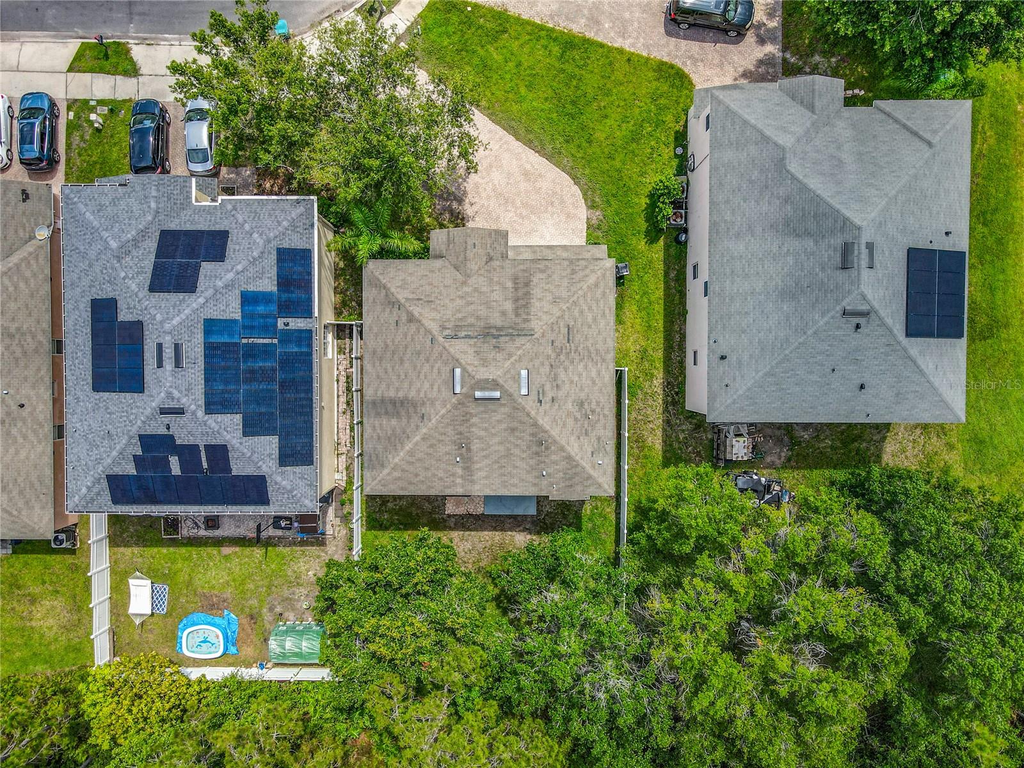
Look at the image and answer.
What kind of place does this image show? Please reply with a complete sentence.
The picture captures a residential area.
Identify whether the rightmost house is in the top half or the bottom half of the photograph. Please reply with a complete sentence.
The rightmost house is in the top half of the image.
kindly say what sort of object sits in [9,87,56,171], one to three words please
car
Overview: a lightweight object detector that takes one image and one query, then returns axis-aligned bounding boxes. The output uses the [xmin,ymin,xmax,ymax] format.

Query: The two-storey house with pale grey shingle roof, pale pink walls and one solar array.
[687,73,969,423]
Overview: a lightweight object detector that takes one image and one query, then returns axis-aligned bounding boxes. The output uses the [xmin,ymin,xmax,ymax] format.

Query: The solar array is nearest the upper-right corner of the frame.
[905,248,965,338]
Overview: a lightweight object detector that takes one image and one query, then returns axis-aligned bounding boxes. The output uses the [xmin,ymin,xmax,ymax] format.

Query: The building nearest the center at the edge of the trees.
[363,227,615,500]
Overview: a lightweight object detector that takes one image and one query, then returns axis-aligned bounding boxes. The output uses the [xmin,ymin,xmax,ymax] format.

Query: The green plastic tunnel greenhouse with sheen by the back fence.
[262,628,324,666]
